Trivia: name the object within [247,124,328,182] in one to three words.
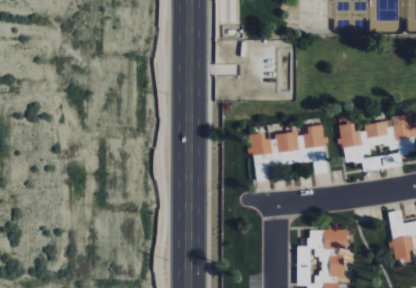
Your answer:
house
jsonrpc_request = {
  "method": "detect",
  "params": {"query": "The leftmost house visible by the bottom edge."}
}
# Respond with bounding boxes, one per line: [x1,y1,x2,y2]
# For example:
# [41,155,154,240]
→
[297,230,348,288]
